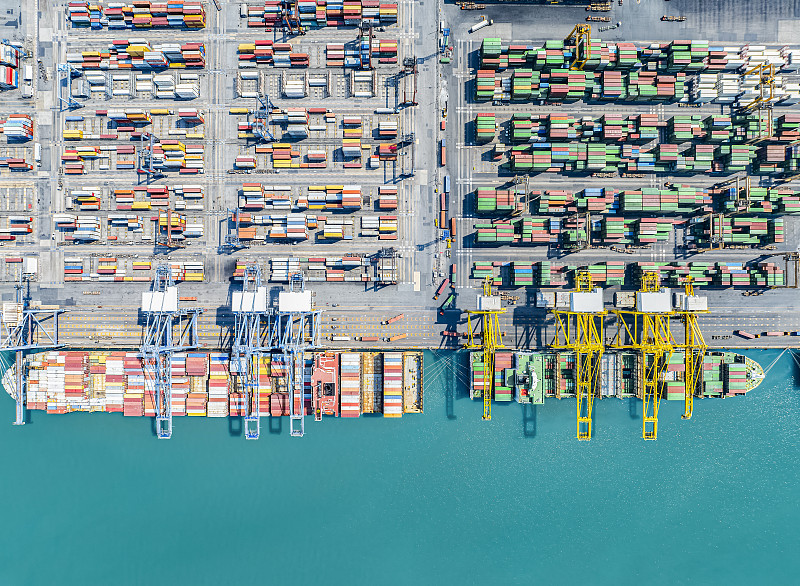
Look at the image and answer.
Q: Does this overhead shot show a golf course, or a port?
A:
port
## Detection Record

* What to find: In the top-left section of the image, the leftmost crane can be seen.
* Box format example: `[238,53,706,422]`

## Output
[55,59,89,106]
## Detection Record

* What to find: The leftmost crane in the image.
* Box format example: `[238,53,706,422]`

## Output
[0,271,67,426]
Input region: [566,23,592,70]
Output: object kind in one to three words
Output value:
container crane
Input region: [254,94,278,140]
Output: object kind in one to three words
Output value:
container crane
